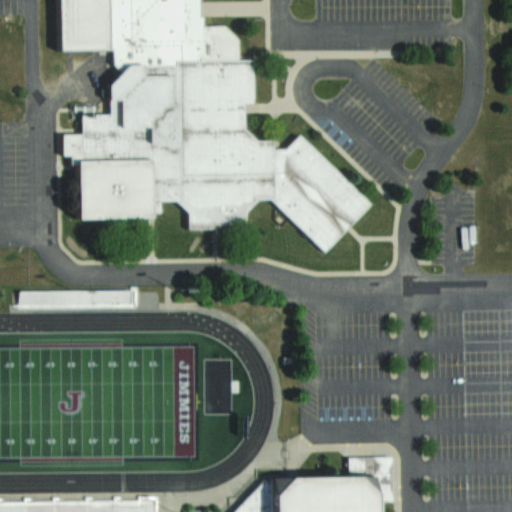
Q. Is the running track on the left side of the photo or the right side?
left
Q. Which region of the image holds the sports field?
bottom left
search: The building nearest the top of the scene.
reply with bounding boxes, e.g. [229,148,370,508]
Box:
[62,0,374,253]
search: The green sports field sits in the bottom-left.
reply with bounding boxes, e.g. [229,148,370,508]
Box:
[0,340,198,466]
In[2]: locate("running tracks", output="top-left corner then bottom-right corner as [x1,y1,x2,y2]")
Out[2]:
[0,313,273,492]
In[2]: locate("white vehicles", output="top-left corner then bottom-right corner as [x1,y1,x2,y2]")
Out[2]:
[470,226,476,246]
[454,378,464,384]
[462,226,469,252]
